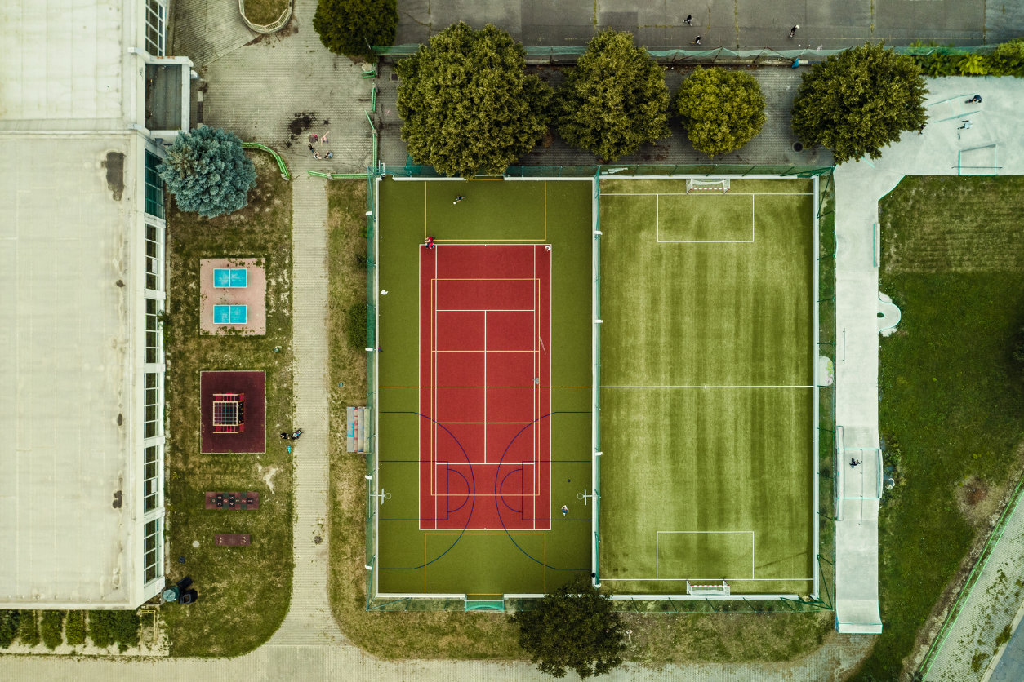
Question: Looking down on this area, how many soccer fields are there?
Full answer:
Just 1 soccer field appears in this view.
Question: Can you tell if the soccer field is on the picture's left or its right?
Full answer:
The soccer field sits on the right side.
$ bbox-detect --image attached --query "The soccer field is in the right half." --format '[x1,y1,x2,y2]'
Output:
[594,175,815,597]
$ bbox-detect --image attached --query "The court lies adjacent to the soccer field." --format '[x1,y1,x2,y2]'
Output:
[378,169,594,604]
